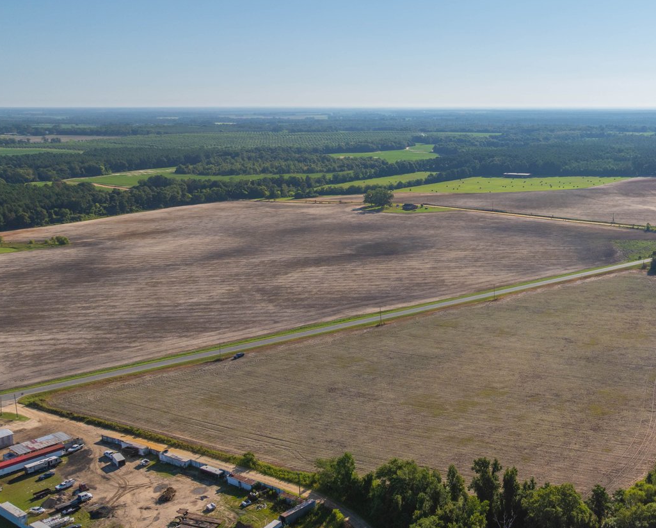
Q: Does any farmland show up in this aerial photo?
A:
Yes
